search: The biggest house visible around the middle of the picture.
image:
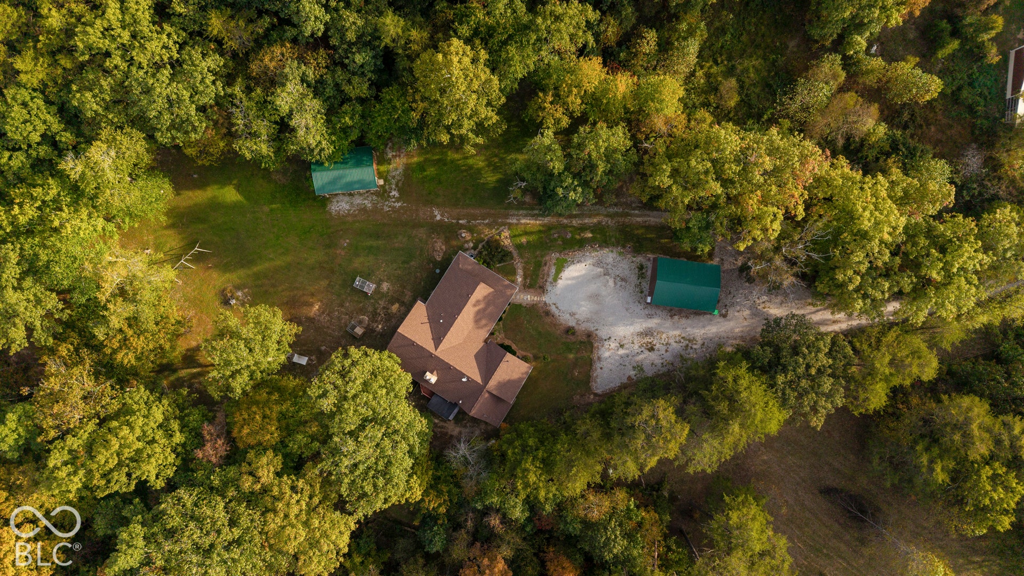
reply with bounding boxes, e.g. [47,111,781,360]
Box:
[381,251,533,428]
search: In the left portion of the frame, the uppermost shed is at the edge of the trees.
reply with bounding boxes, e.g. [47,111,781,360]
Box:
[309,145,381,196]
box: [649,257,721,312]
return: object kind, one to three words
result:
building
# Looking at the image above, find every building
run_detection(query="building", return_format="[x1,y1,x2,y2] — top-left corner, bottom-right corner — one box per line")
[649,257,721,312]
[381,251,533,428]
[1005,42,1024,126]
[309,145,381,196]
